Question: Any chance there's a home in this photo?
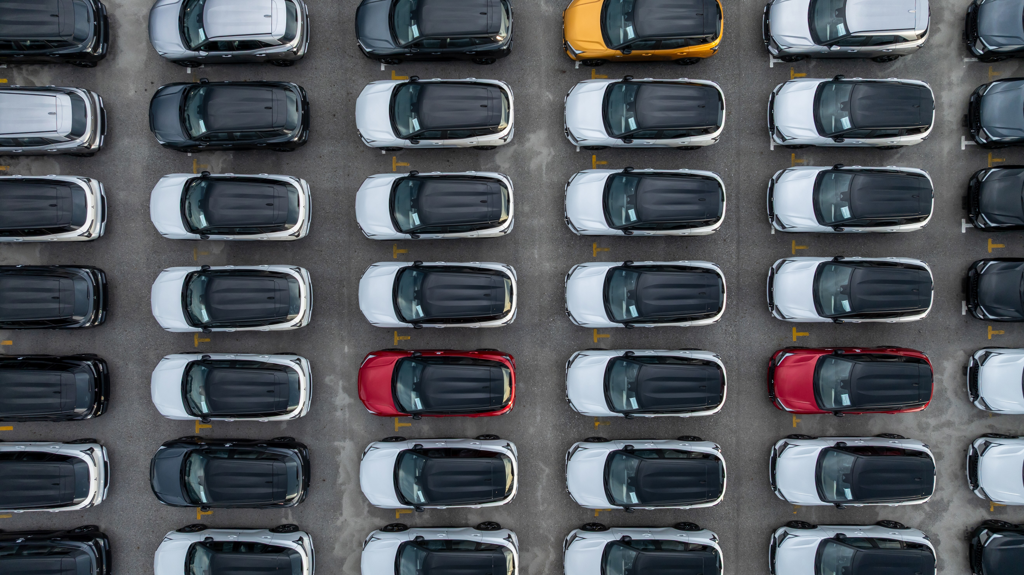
No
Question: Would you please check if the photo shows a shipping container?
No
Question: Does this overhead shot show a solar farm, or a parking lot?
parking lot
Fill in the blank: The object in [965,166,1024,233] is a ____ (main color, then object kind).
black car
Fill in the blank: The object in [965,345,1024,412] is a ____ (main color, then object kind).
white car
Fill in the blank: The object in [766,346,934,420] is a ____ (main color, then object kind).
black car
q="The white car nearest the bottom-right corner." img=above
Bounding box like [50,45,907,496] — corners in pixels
[966,432,1024,503]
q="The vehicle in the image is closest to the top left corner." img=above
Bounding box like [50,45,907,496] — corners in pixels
[0,0,109,67]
